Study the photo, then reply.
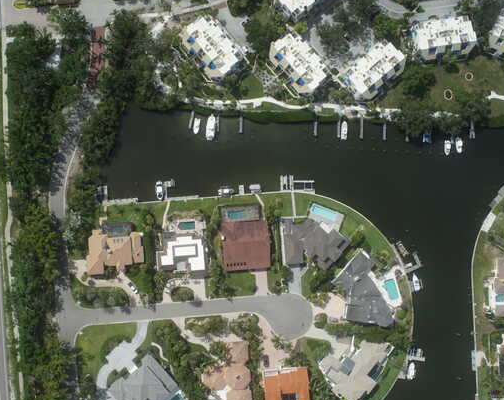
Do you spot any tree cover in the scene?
Yes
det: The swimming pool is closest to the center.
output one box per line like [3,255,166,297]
[221,204,261,221]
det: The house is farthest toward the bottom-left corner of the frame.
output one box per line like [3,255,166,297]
[108,354,178,400]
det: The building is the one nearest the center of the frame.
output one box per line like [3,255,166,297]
[220,220,270,271]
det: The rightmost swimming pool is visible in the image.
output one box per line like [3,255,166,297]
[491,276,504,305]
